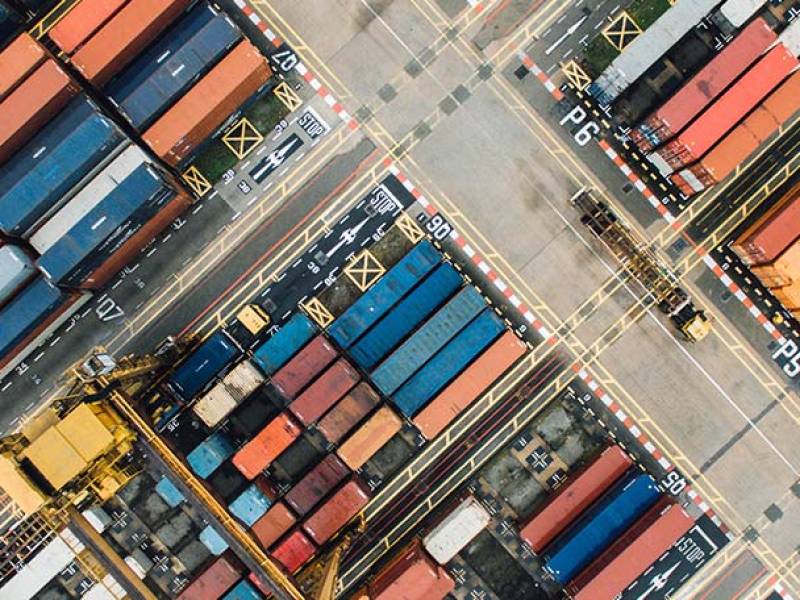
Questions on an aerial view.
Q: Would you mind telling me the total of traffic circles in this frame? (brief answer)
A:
zero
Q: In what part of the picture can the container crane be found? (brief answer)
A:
bottom left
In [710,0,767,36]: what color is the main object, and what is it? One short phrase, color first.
white shipping container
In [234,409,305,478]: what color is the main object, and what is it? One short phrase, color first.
orange shipping container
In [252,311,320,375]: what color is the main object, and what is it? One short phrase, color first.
blue shipping container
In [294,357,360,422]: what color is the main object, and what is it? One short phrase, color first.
red shipping container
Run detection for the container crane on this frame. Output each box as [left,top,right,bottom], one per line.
[0,320,368,600]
